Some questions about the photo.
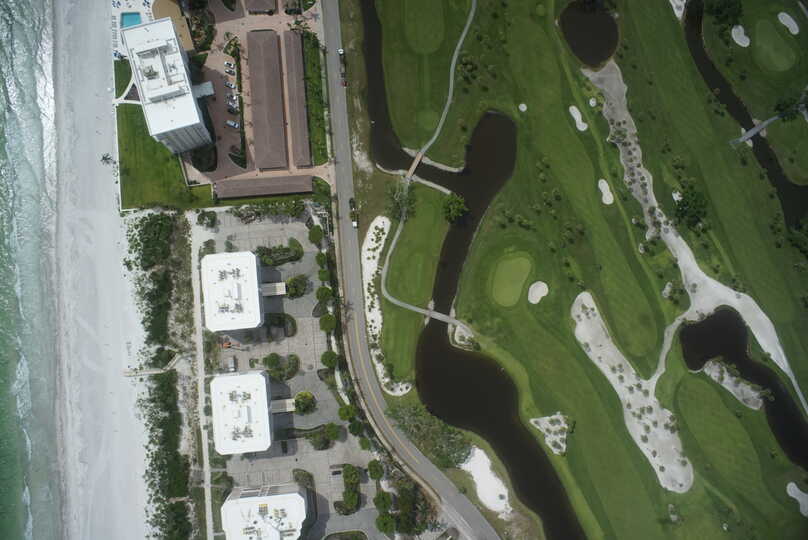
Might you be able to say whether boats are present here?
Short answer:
No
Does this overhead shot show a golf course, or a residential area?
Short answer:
golf course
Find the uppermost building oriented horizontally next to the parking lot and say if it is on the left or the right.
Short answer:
left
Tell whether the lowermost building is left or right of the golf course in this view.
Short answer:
on its left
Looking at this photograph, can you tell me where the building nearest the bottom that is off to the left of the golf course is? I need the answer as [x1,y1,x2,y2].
[221,484,306,540]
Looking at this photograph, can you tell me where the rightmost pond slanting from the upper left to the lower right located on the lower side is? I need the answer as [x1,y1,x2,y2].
[681,306,808,473]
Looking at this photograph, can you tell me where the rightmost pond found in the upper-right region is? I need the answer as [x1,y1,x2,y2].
[685,0,808,239]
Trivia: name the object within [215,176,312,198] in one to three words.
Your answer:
building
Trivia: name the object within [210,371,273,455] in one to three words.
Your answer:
building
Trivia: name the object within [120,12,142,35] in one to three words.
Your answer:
swimming pool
